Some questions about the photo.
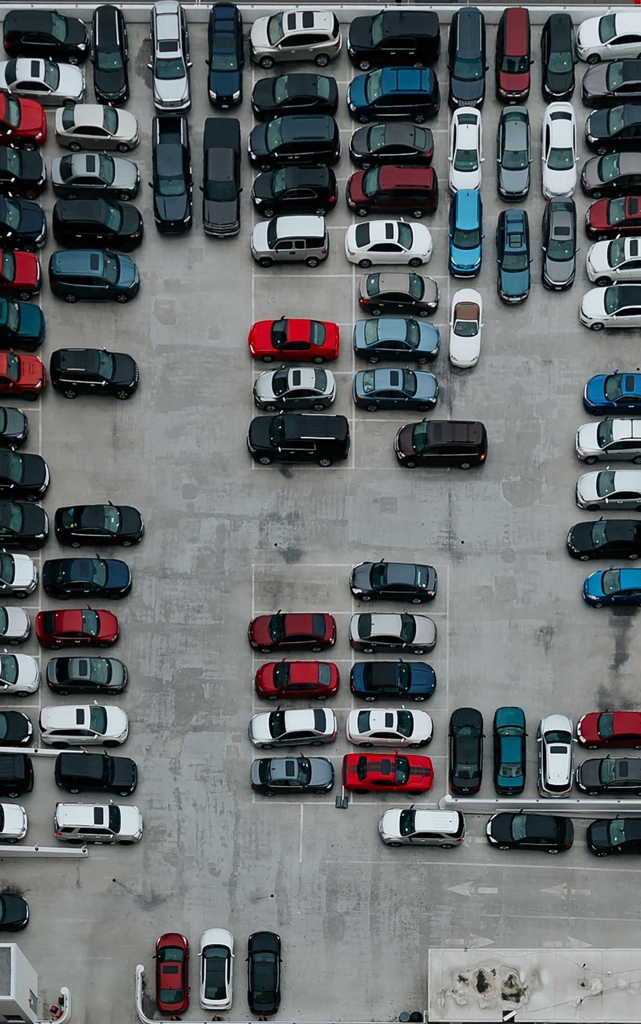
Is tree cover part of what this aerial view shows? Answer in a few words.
No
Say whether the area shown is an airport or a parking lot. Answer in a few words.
parking lot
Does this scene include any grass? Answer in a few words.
No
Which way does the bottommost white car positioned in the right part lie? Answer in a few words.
from left to right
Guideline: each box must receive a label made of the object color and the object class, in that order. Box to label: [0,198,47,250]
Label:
black car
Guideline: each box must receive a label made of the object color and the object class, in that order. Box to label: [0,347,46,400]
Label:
red truck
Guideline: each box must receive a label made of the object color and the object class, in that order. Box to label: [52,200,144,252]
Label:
black car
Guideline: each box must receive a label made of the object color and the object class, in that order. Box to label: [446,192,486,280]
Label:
blue car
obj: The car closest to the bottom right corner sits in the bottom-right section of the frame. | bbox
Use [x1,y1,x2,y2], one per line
[584,813,641,856]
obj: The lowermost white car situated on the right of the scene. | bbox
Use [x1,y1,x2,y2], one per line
[378,803,466,848]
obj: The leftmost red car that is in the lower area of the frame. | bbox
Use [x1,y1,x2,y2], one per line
[35,604,120,649]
